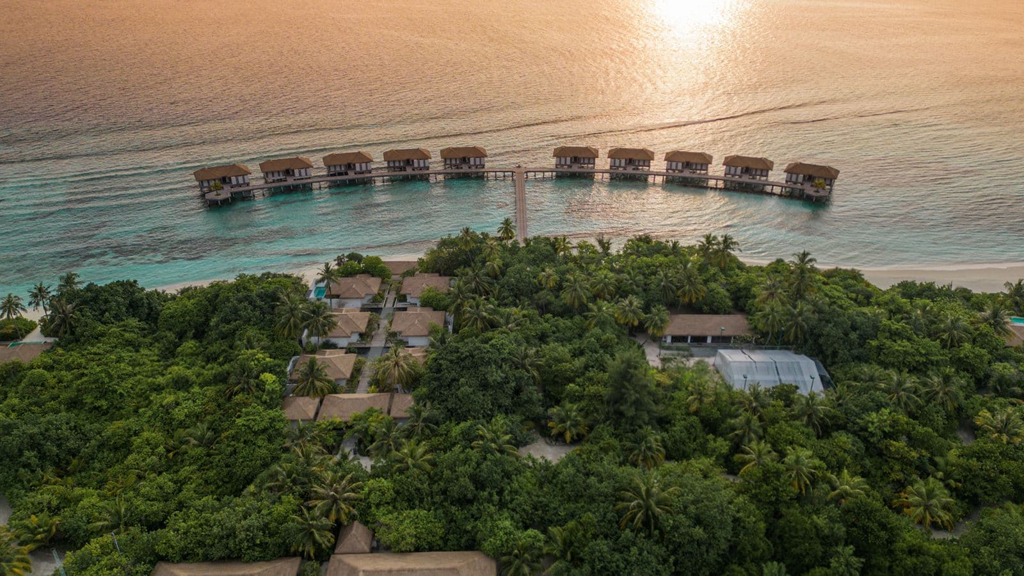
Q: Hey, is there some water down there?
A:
Yes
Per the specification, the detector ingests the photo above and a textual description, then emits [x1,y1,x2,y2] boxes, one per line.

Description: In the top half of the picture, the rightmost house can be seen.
[788,167,840,196]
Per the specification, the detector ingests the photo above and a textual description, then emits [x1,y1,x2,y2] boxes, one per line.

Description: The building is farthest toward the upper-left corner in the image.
[197,165,250,195]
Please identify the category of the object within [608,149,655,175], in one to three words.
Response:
house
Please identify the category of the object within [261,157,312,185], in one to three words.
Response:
house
